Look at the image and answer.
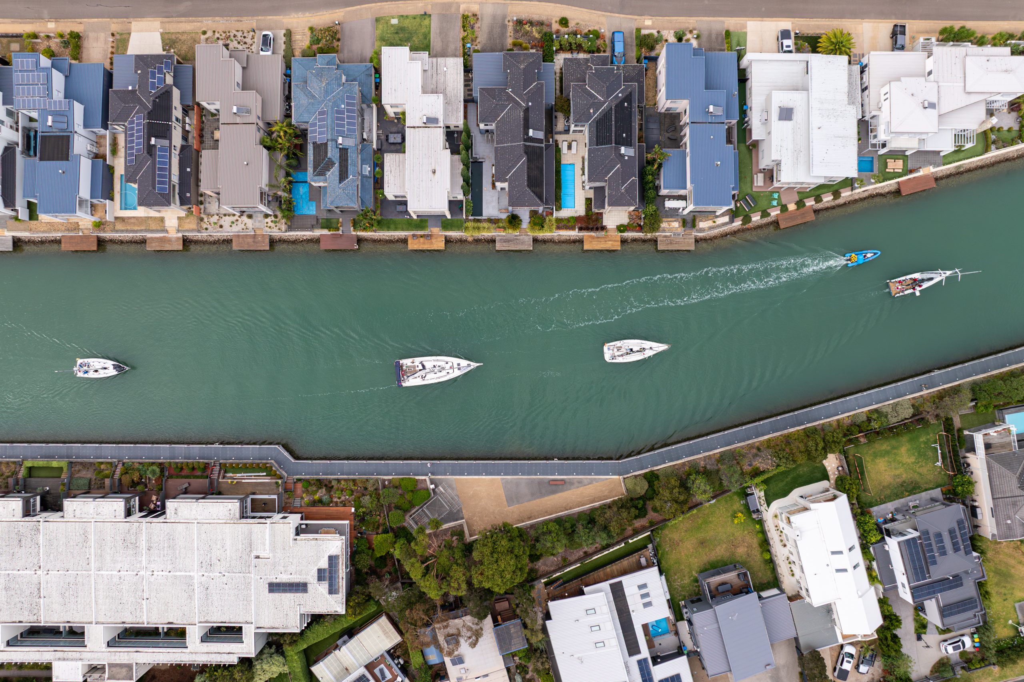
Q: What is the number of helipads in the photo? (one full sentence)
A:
There are no helipads in this view.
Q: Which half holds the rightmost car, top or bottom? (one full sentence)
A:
You can find the rightmost car in the bottom half.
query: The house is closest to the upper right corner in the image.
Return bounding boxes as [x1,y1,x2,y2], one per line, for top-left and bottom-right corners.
[857,36,1024,156]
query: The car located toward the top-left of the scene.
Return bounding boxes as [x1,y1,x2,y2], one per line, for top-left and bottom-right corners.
[258,31,275,54]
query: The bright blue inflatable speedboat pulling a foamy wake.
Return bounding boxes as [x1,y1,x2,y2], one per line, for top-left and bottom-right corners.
[844,249,881,267]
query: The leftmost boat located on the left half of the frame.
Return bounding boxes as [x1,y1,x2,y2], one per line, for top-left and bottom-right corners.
[55,359,133,380]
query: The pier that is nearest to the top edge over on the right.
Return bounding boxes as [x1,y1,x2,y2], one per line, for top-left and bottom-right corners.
[898,166,936,196]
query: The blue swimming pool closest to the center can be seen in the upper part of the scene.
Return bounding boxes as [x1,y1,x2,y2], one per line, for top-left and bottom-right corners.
[561,161,577,210]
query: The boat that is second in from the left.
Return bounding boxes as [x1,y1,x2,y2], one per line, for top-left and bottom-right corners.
[395,355,483,387]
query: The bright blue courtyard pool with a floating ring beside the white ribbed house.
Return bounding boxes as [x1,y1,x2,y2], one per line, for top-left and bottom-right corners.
[647,617,671,640]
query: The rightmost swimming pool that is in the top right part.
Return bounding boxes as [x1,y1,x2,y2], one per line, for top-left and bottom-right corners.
[858,154,877,174]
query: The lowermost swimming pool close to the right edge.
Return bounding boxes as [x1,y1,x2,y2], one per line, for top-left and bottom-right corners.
[1002,409,1024,437]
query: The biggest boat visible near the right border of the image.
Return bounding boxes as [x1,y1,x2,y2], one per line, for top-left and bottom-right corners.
[886,267,981,298]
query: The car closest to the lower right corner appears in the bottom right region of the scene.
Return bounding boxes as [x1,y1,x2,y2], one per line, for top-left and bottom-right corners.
[938,633,972,655]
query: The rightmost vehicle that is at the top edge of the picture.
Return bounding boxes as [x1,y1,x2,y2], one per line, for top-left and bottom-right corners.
[889,20,909,51]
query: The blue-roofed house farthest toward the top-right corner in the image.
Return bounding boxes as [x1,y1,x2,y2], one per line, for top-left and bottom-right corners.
[659,42,739,215]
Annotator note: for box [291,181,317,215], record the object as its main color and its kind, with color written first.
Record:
blue swimming pool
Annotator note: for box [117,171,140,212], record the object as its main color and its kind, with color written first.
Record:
blue swimming pool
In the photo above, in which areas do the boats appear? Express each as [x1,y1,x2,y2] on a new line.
[844,249,881,267]
[55,359,133,380]
[602,337,671,362]
[395,355,483,387]
[886,267,981,298]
